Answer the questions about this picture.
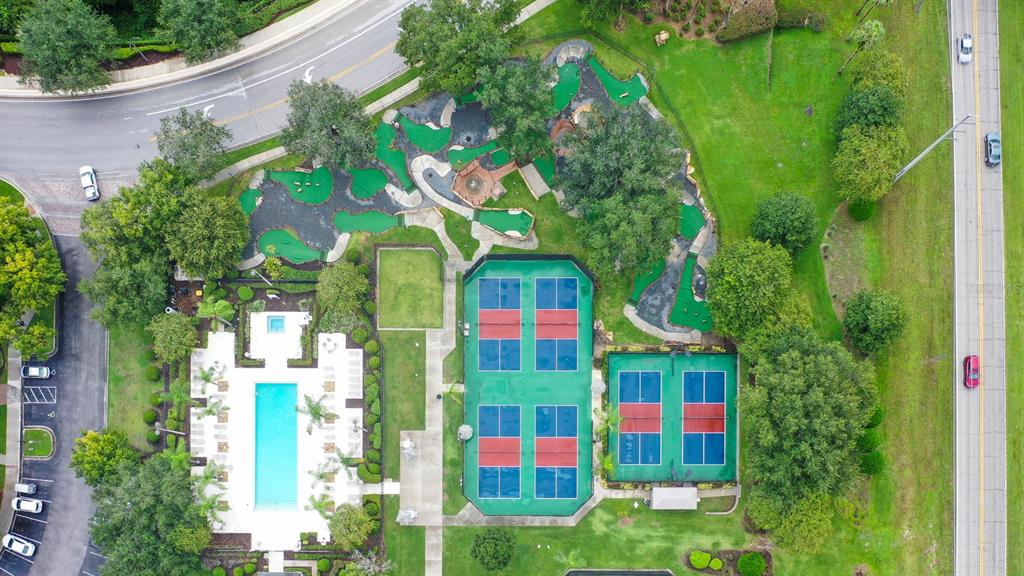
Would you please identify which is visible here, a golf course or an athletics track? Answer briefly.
golf course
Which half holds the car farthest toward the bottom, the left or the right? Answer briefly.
left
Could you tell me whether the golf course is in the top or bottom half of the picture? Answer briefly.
top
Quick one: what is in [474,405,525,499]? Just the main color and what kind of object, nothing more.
blue sports court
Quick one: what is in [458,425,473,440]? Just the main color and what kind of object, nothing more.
white umbrella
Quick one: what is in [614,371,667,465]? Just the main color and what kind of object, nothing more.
blue sports court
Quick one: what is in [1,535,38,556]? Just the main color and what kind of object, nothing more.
white car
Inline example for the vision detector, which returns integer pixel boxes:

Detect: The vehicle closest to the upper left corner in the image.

[78,165,100,203]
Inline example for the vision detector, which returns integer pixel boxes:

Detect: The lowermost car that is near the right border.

[961,355,982,388]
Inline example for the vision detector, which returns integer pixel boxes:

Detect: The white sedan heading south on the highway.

[955,32,974,67]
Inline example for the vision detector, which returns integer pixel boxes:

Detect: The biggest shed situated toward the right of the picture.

[651,488,696,509]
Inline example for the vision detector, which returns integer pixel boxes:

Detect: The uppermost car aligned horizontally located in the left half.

[17,364,53,380]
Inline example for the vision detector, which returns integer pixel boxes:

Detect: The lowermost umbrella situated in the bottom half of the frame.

[399,508,415,524]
